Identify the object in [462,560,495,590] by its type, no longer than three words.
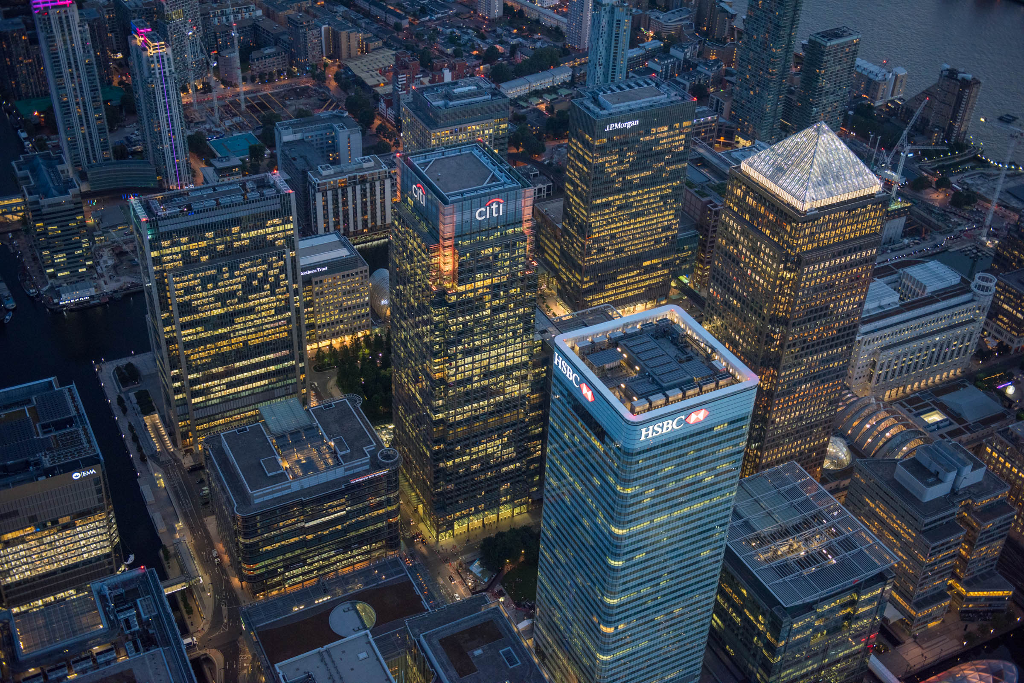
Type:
tent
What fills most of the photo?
buildings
